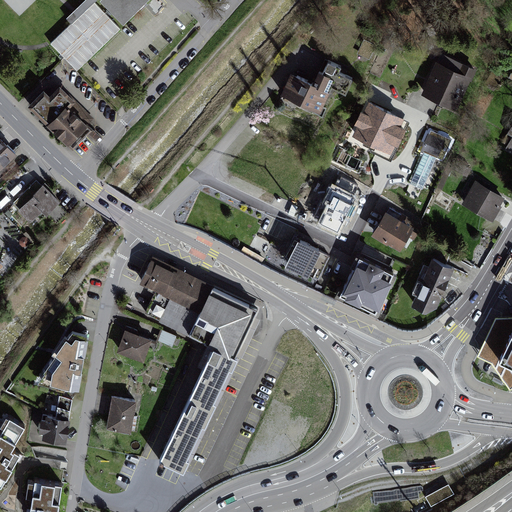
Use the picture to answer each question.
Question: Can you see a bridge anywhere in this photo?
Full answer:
Yes, looking at the shot, I can spot a bridge.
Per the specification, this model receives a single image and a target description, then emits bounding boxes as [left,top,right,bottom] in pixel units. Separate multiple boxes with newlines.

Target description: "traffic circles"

[358,346,454,441]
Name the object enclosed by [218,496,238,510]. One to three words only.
vehicle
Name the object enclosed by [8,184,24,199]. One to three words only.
vehicle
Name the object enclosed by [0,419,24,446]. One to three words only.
building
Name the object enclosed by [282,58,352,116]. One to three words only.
house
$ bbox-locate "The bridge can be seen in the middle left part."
[84,176,138,228]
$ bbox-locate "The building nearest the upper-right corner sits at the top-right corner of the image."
[422,56,475,112]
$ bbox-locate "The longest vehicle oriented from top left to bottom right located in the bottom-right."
[418,366,440,388]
